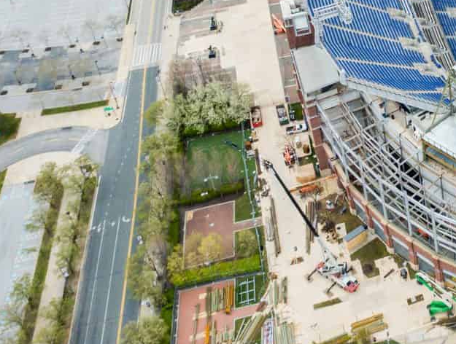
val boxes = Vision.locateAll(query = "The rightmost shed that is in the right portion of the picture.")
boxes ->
[331,219,376,251]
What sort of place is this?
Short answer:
sports ground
